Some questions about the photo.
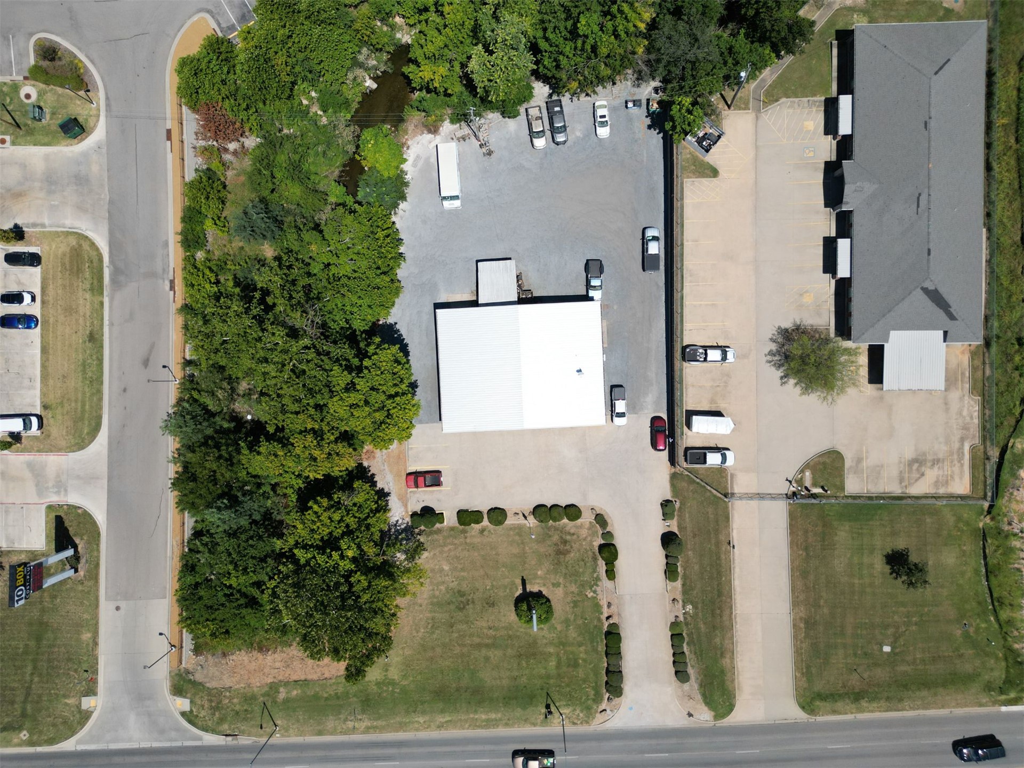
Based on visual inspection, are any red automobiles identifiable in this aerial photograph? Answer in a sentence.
Yes, a red automobile is visible in the scene.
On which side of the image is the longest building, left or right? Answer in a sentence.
The longest building is on the right side of the image.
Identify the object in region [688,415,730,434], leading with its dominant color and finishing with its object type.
white trailer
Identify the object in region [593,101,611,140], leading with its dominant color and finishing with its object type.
white car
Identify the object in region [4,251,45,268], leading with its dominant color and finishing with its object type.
black car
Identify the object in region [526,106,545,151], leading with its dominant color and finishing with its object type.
white vehicle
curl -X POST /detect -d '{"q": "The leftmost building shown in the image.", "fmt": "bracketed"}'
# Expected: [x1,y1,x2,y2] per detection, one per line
[436,260,607,432]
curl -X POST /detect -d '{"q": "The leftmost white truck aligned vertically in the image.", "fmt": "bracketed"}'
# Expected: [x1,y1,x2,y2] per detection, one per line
[438,141,463,212]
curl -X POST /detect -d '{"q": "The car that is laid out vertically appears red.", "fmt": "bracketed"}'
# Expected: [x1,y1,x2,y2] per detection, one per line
[651,416,668,451]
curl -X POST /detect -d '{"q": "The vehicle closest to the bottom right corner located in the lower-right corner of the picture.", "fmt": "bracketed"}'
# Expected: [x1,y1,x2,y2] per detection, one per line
[955,735,1004,759]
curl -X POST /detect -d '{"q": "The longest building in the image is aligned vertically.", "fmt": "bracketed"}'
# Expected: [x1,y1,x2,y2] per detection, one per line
[828,20,988,344]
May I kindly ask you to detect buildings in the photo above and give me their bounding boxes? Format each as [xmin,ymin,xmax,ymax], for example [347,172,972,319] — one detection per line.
[828,20,988,344]
[436,260,607,432]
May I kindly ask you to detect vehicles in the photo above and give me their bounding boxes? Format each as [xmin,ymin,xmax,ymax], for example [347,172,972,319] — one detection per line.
[2,290,39,307]
[407,472,444,488]
[512,755,556,768]
[4,251,45,268]
[651,416,668,451]
[0,415,47,432]
[955,735,1004,759]
[546,99,568,148]
[593,101,611,140]
[3,314,42,330]
[686,448,732,466]
[684,345,733,363]
[526,106,545,151]
[438,141,463,212]
[610,384,626,426]
[585,259,603,301]
[642,228,660,273]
